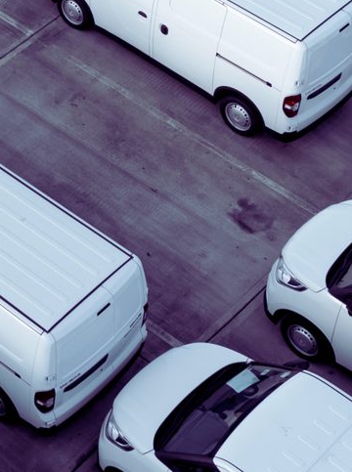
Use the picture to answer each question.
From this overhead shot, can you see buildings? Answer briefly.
No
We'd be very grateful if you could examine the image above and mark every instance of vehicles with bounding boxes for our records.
[265,202,352,380]
[0,165,144,438]
[52,0,352,144]
[96,344,352,472]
